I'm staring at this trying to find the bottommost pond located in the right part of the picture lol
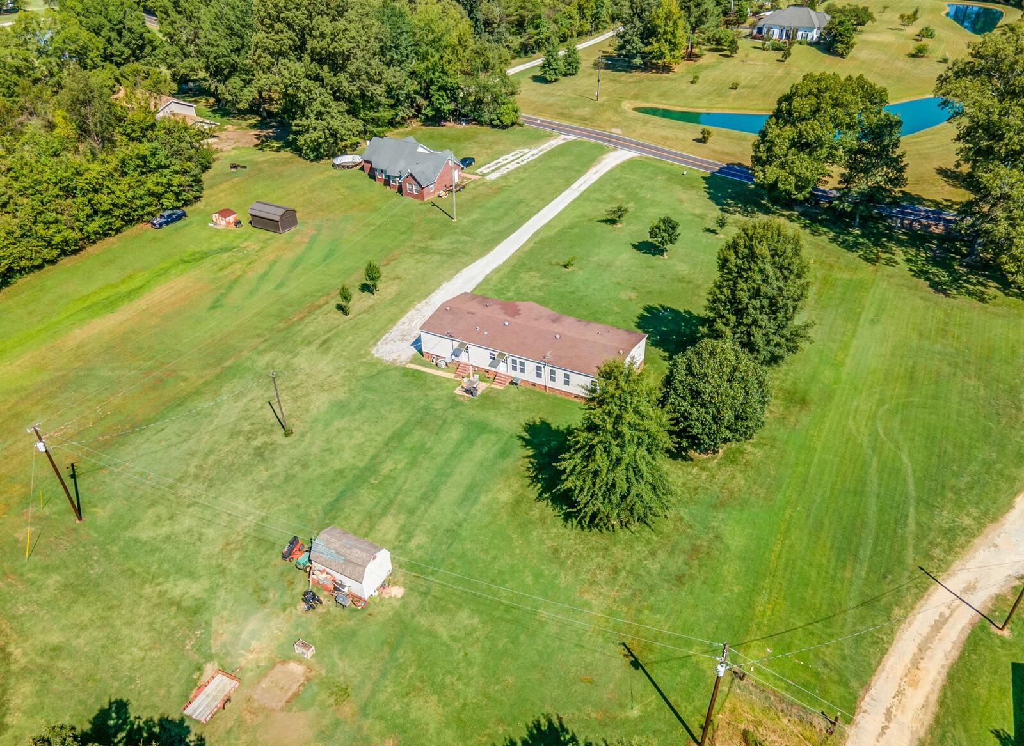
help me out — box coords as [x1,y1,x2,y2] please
[634,99,960,137]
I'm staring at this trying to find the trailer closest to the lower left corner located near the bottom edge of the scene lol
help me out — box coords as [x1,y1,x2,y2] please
[184,666,243,725]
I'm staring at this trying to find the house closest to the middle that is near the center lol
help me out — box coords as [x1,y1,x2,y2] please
[418,291,651,405]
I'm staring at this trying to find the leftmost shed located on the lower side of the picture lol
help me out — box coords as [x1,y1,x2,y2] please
[314,526,392,598]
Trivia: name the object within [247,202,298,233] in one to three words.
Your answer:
shed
